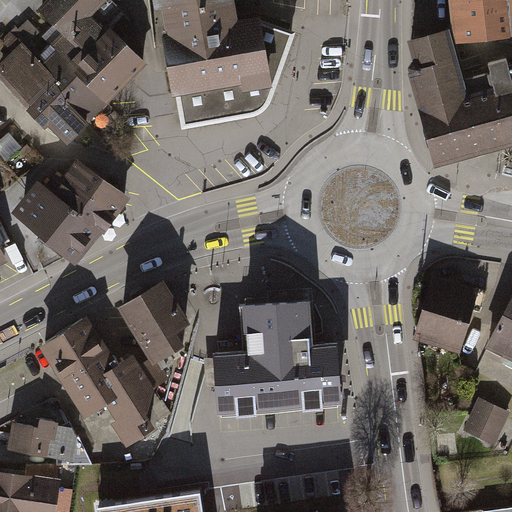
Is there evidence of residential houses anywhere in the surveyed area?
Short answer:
Yes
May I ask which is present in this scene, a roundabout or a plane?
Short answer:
roundabout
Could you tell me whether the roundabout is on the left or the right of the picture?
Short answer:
right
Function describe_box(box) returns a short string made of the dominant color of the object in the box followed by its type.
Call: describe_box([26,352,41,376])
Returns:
black car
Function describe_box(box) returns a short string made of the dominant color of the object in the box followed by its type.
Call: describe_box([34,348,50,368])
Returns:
red car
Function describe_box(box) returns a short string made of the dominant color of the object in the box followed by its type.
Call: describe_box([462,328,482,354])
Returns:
white vehicle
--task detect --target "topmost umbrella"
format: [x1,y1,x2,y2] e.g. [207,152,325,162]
[95,114,108,128]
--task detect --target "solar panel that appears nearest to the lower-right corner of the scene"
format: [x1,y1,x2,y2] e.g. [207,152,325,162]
[324,388,339,404]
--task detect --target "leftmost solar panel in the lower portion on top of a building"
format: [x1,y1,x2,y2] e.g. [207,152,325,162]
[218,396,234,412]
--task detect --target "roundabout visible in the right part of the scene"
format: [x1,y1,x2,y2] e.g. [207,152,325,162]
[284,130,436,284]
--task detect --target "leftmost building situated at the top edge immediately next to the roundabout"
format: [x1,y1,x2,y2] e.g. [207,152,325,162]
[161,0,294,132]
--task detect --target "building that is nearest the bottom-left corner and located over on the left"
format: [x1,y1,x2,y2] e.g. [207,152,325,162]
[0,464,72,512]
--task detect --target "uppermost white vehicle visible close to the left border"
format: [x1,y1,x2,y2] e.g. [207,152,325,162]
[4,244,24,270]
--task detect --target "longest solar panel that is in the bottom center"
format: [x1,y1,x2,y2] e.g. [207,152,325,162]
[258,390,300,410]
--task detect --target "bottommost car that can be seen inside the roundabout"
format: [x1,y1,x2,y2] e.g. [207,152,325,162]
[331,252,352,264]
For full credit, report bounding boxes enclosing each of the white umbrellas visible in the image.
[112,214,125,228]
[103,228,116,241]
